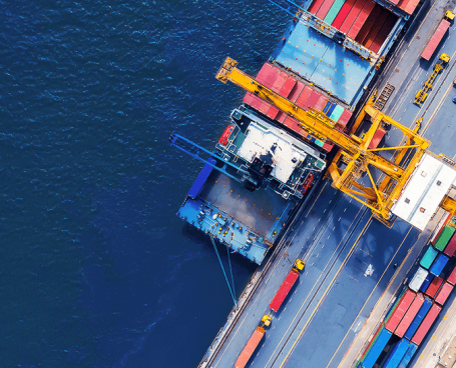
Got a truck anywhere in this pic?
Yes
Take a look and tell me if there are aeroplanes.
No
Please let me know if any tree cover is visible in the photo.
No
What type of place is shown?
port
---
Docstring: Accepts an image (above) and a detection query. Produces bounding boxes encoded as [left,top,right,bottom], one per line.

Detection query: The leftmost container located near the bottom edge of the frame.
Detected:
[233,329,263,368]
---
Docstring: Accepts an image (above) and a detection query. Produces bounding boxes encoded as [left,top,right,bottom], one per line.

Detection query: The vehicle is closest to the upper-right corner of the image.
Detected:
[440,7,456,23]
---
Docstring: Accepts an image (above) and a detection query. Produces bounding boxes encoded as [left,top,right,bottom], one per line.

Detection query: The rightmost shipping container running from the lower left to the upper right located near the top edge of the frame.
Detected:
[421,18,451,61]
